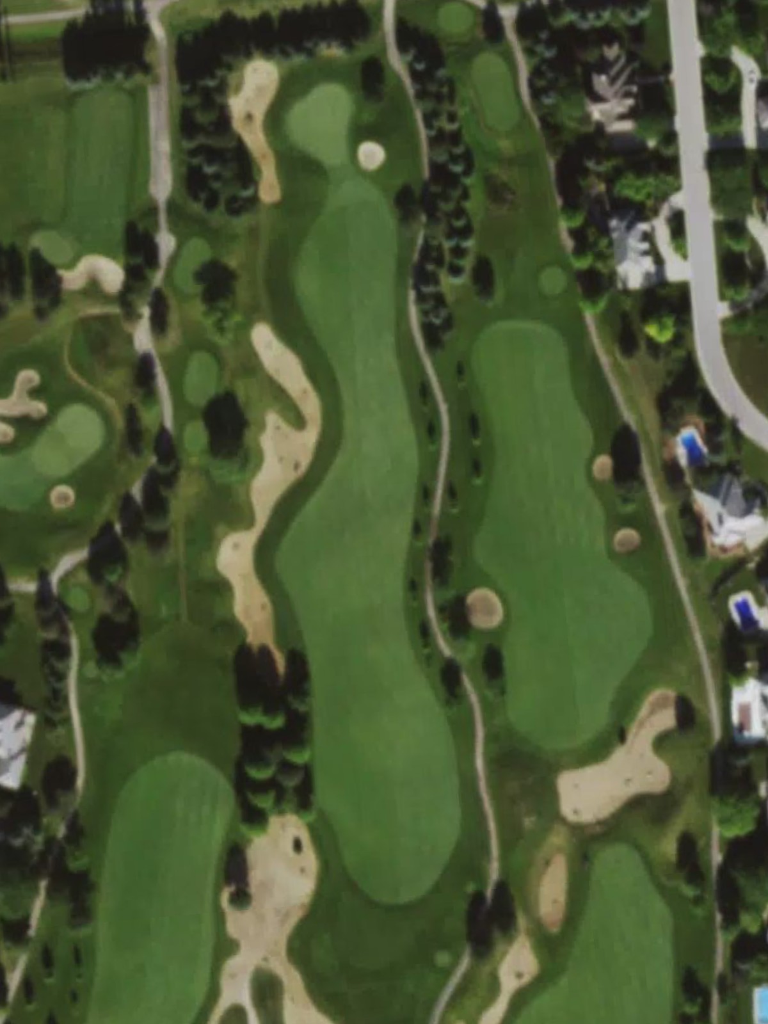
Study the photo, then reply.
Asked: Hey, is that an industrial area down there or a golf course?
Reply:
golf course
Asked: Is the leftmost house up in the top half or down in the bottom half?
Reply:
bottom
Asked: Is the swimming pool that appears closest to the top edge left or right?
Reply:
right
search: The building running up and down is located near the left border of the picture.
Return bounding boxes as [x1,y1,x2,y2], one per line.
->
[0,706,38,789]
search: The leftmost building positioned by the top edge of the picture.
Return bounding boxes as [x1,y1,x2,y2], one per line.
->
[589,39,644,119]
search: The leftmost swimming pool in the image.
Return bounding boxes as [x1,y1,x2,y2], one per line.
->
[675,425,709,470]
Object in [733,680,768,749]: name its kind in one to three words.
house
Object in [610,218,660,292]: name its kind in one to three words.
house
